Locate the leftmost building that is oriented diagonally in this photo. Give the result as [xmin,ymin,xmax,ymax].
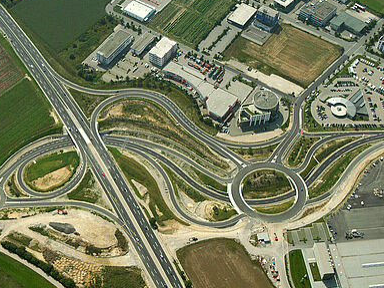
[97,30,133,63]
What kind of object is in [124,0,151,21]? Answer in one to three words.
building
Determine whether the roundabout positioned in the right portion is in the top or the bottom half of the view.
bottom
